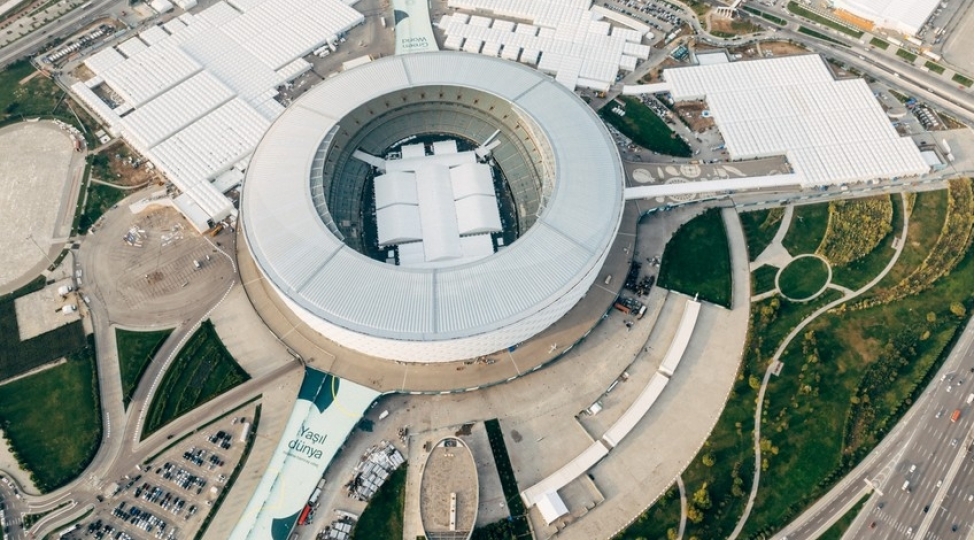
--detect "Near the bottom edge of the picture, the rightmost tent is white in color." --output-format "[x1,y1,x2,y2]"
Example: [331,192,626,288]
[536,490,569,528]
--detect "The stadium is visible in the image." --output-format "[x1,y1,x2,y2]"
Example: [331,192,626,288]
[246,55,621,361]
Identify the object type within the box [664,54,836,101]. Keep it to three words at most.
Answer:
building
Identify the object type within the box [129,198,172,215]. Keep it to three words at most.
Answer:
shed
